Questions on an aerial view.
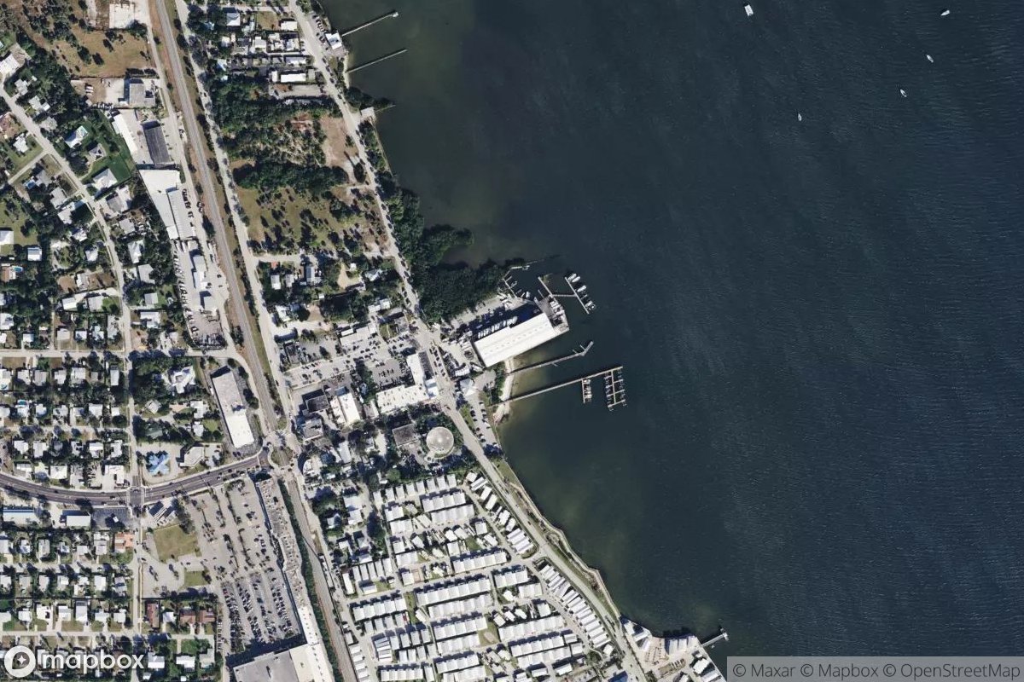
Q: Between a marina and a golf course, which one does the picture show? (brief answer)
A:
marina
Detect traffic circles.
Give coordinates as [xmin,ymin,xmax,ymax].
[257,432,302,476]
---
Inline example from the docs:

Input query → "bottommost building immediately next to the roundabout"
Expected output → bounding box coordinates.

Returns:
[258,479,312,609]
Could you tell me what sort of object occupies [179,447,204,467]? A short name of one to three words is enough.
building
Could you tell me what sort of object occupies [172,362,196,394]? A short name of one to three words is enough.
building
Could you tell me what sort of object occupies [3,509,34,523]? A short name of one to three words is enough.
house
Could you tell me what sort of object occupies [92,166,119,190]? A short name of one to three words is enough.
house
